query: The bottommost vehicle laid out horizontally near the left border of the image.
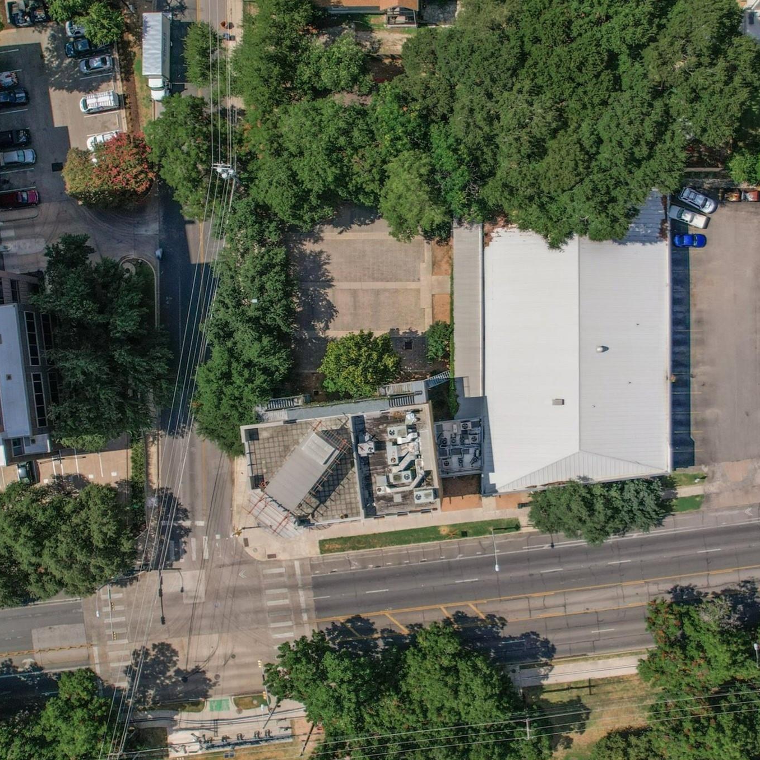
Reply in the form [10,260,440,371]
[0,189,41,210]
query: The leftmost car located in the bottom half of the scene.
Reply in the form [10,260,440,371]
[18,456,37,489]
